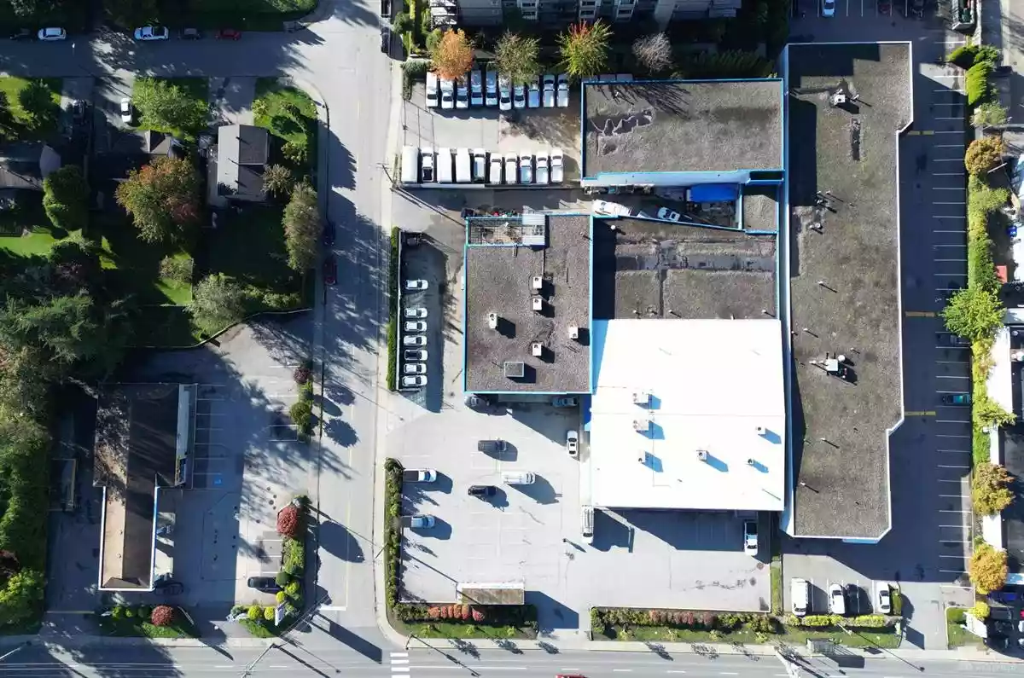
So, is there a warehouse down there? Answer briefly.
Yes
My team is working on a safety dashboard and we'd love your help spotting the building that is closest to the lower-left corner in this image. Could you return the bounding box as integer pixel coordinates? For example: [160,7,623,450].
[94,383,197,590]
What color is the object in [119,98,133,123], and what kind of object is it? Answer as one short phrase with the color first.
white car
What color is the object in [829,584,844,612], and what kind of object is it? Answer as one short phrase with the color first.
white car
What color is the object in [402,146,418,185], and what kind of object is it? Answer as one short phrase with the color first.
white vehicle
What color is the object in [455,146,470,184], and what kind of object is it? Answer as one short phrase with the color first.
white vehicle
